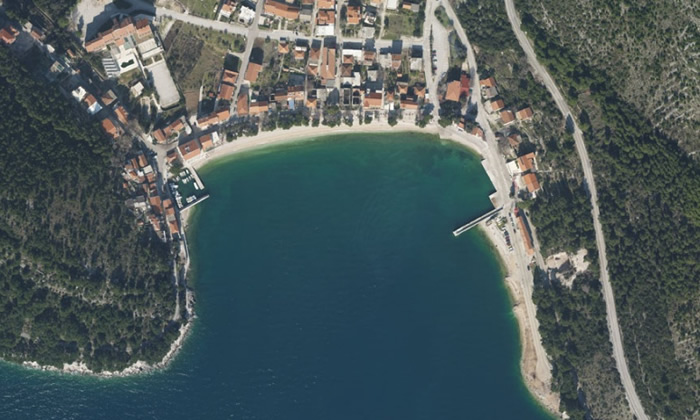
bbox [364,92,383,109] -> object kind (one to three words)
house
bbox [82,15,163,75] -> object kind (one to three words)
building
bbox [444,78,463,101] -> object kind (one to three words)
building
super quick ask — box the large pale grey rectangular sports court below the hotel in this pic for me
[147,60,181,107]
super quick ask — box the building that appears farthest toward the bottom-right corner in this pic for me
[515,213,537,257]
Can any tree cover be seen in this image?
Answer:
Yes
